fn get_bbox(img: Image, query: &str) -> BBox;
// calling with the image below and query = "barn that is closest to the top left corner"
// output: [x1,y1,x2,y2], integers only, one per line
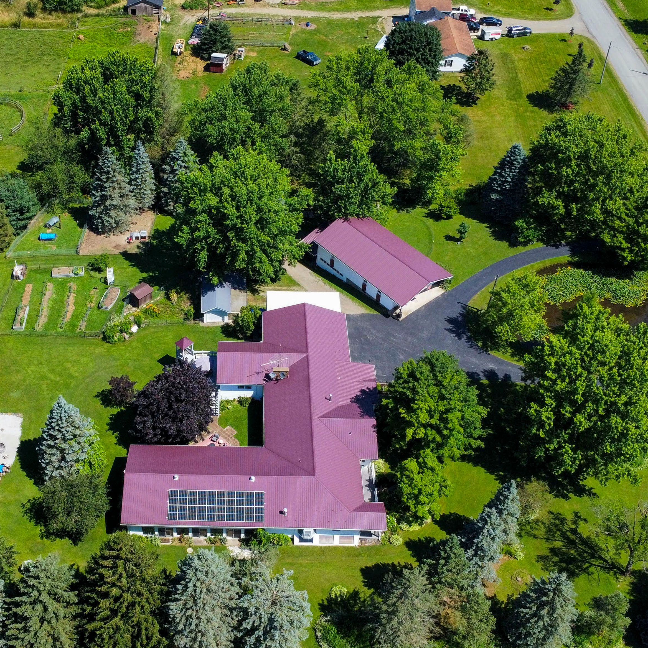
[125,0,161,16]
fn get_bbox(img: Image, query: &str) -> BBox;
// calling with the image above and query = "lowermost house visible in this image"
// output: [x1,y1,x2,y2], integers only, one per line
[120,302,388,553]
